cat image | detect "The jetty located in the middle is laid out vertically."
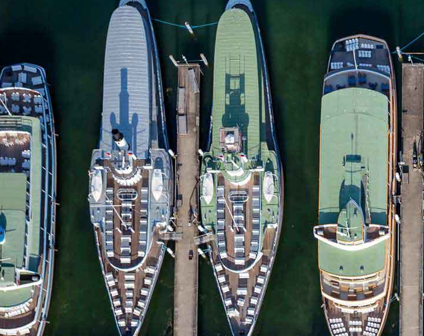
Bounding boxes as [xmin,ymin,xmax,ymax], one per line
[173,63,201,336]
